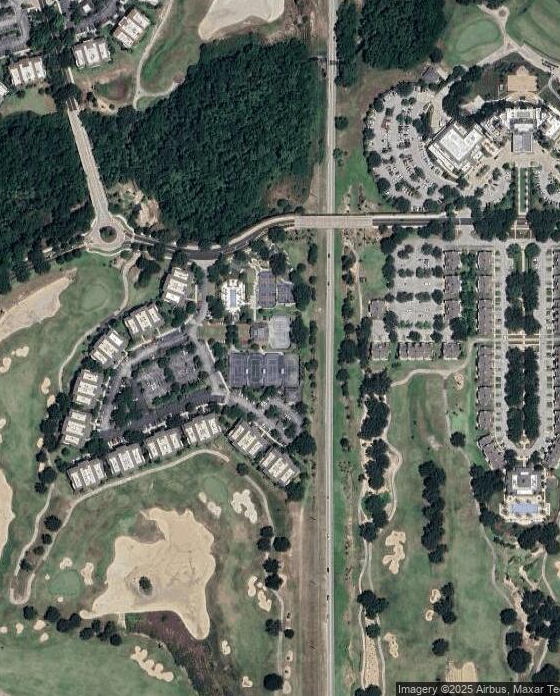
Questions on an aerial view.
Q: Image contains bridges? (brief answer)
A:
Yes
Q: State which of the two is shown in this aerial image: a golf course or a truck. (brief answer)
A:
golf course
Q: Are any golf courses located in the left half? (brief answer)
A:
Yes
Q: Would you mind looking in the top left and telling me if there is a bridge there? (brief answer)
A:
Yes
